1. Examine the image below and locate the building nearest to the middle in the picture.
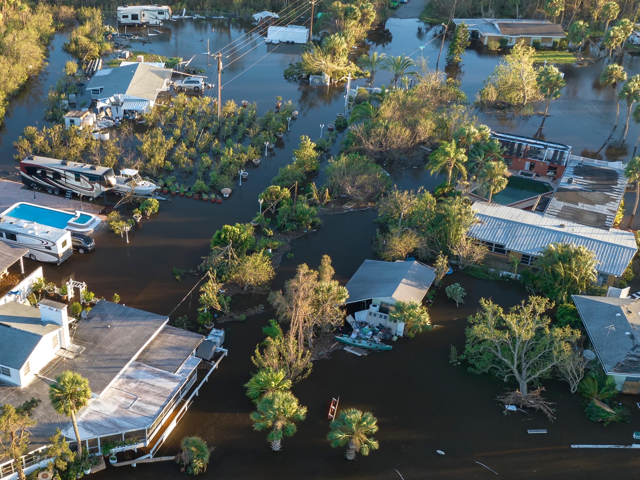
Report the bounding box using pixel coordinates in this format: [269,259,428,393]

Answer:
[349,259,436,323]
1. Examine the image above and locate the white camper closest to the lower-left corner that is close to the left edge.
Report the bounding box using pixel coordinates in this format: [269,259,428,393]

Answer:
[0,215,73,265]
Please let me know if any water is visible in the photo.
Yes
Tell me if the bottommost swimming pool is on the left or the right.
left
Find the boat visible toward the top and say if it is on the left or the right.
left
